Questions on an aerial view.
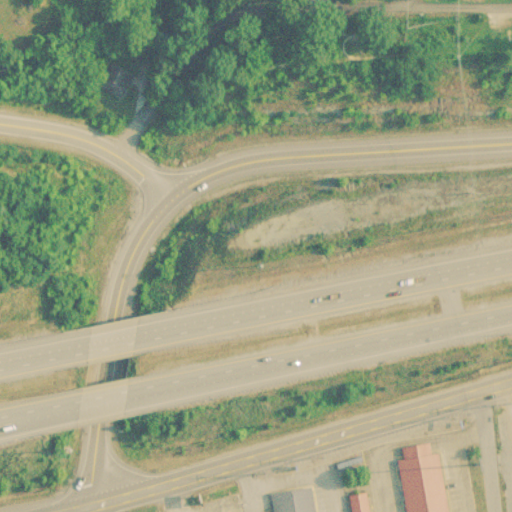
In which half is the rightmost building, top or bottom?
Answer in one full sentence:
The rightmost building sits in the bottom half of the picture.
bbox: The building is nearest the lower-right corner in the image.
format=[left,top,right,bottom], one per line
[399,442,446,512]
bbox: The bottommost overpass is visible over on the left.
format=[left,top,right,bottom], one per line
[76,378,132,432]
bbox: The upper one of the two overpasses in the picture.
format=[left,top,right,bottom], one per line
[85,316,140,368]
